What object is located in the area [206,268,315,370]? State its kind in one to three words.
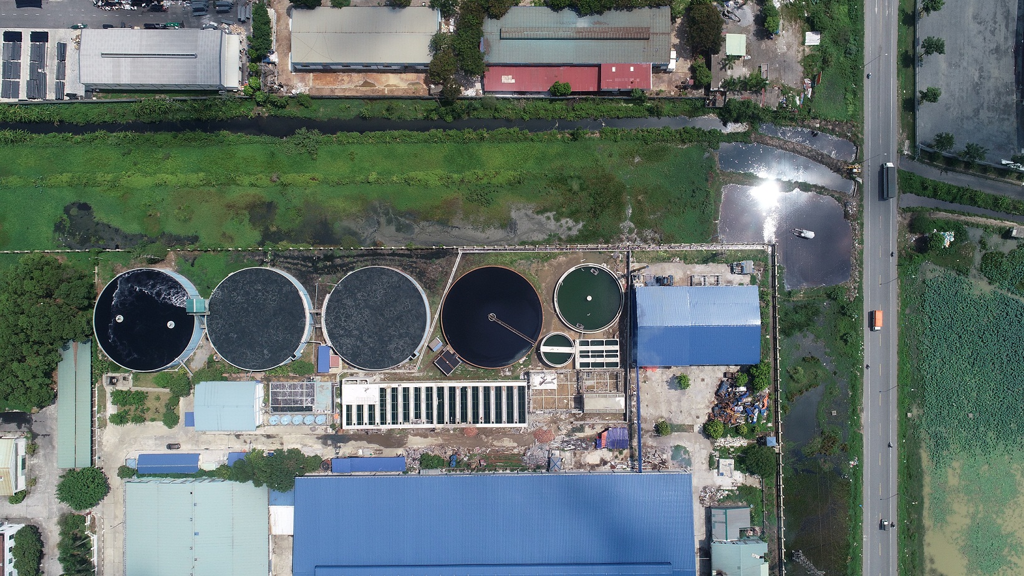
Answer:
storage tank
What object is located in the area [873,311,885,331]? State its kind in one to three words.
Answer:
vehicle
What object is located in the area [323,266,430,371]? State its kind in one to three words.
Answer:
storage tank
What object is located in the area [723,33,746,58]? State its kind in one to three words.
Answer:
shed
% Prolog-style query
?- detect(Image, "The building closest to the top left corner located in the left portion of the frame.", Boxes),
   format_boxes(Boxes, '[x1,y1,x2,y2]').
[75,29,227,89]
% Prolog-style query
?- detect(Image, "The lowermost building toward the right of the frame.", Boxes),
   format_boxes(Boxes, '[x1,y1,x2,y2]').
[706,538,767,576]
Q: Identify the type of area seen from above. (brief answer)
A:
industrial area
